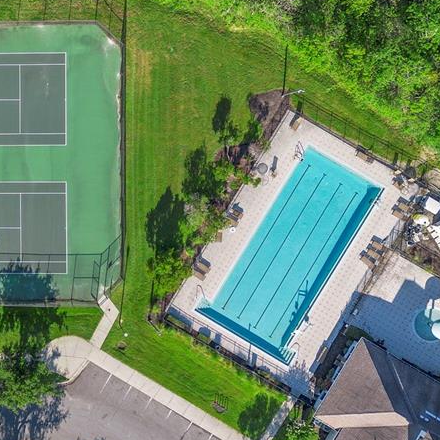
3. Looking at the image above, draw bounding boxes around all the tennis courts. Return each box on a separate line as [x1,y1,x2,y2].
[0,182,67,274]
[0,53,67,146]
